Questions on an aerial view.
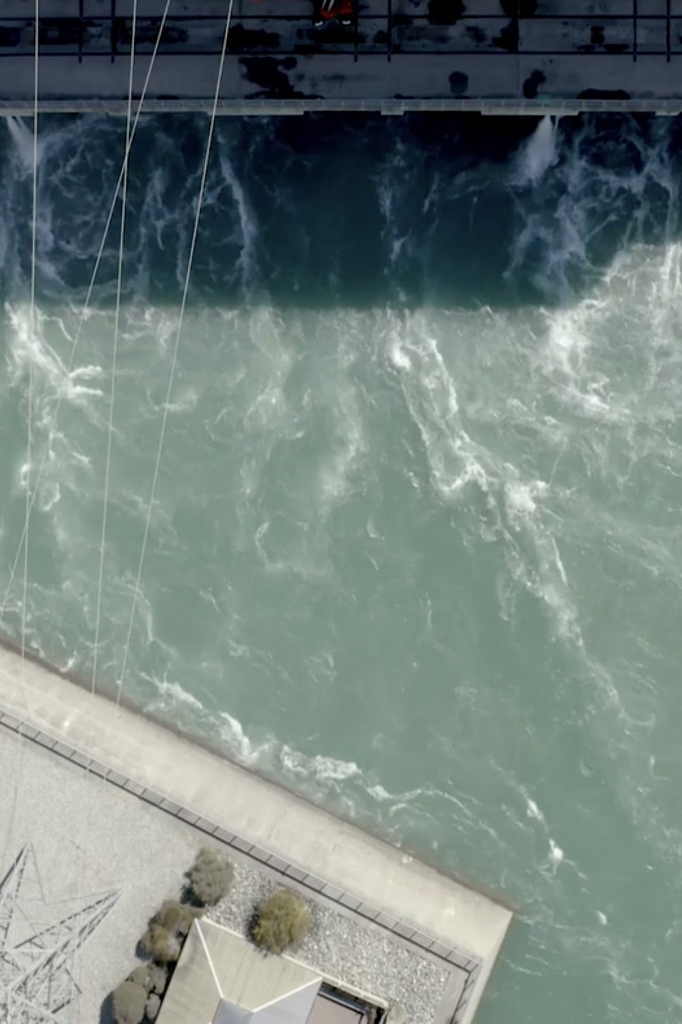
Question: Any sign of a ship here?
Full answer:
No, I can see no ship in this picture.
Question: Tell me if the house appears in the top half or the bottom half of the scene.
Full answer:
You can find the house in the bottom half.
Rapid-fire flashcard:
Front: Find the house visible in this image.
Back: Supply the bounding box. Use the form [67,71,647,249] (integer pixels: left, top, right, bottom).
[157,917,389,1024]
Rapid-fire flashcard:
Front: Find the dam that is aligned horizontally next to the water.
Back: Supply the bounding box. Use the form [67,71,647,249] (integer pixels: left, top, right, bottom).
[0,0,682,119]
